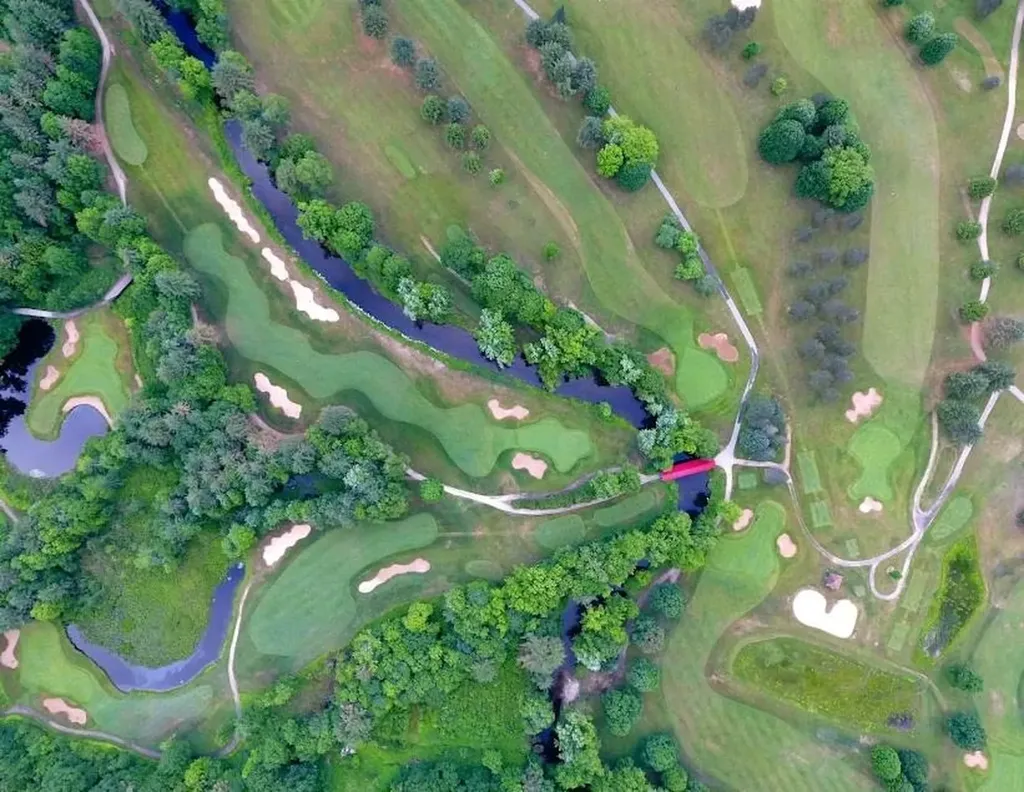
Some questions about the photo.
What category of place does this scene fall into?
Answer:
golf course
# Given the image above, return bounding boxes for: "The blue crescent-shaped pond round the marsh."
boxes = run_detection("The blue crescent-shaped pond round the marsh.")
[68,559,248,691]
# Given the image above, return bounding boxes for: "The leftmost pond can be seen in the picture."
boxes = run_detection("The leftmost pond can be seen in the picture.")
[0,317,104,477]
